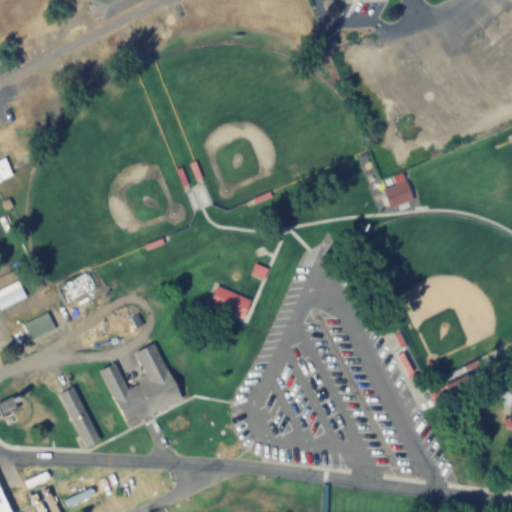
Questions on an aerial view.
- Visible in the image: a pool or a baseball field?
baseball field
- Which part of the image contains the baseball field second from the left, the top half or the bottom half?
top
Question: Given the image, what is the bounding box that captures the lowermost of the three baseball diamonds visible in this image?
[386,216,512,378]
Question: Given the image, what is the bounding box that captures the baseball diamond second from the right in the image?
[156,45,362,210]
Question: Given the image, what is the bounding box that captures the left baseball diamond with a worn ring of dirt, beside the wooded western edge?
[30,70,196,281]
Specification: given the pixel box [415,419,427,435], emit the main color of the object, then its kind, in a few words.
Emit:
white vehicle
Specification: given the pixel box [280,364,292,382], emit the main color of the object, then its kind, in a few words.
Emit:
white vehicle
